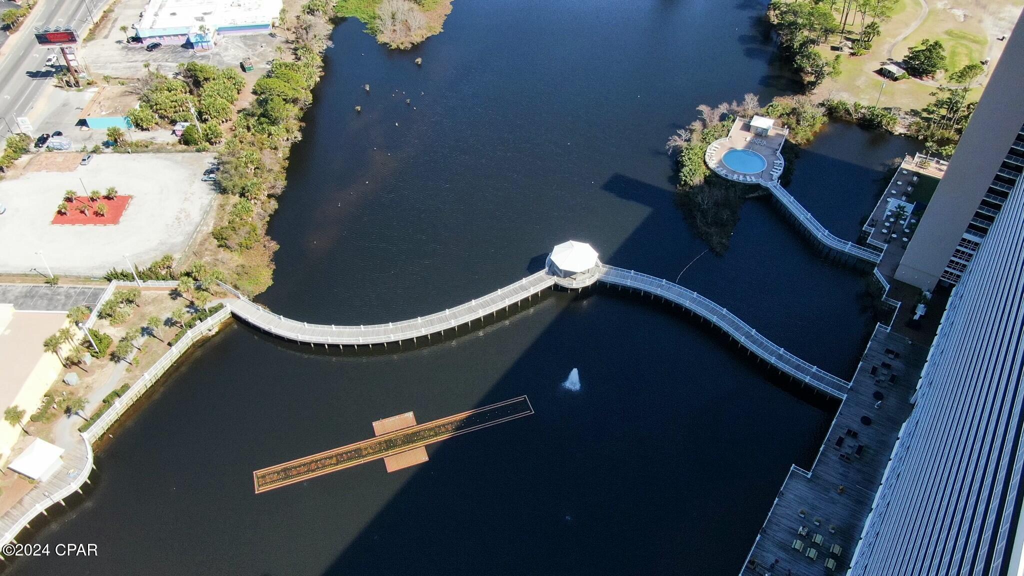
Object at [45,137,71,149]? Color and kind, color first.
white vehicle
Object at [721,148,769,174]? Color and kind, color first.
blue swimming pool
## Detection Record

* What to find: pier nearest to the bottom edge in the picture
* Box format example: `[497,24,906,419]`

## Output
[383,445,430,472]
